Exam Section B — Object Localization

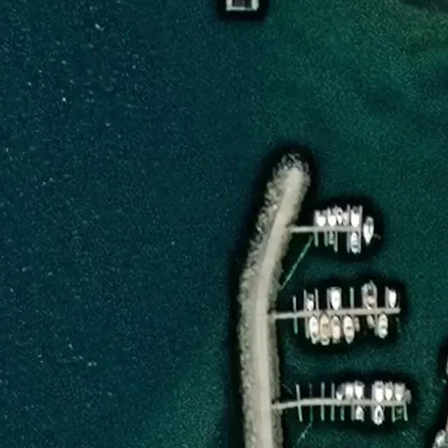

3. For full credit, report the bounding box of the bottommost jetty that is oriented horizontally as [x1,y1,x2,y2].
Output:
[278,382,407,422]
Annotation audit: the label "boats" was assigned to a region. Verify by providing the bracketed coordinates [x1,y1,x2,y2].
[356,406,364,422]
[386,382,393,401]
[328,211,336,227]
[404,390,411,404]
[317,212,325,227]
[336,207,343,225]
[320,314,330,345]
[307,294,314,311]
[367,315,375,329]
[346,382,354,400]
[397,407,403,420]
[329,230,334,245]
[309,317,318,343]
[344,315,354,344]
[336,386,343,400]
[434,429,446,448]
[355,381,364,400]
[351,206,360,228]
[342,210,348,226]
[395,383,404,402]
[351,232,358,253]
[331,317,341,343]
[376,381,384,403]
[389,289,397,308]
[374,405,383,425]
[331,287,341,310]
[378,313,388,338]
[364,217,374,245]
[364,282,376,309]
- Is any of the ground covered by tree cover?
No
